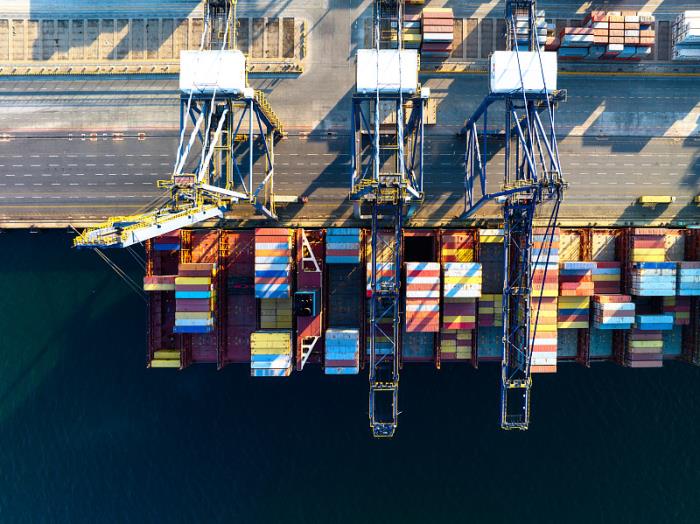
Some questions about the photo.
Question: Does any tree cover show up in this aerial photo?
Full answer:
No, there is no tree cover in the image.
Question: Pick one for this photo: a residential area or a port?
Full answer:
It's a port.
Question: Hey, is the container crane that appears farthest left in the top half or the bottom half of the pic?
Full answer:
It is in the top half that the container crane that appears farthest left appears.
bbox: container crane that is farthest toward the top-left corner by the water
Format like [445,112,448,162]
[70,0,293,249]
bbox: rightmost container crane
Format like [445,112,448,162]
[446,0,572,435]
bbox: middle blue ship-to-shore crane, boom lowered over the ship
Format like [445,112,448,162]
[347,0,432,441]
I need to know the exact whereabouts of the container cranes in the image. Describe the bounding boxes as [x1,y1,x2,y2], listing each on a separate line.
[70,0,293,249]
[446,0,572,435]
[347,0,432,441]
